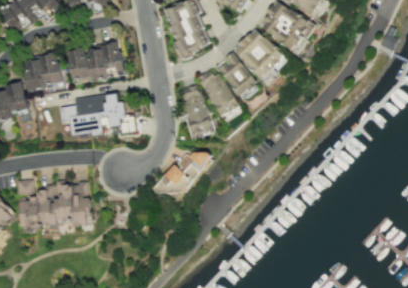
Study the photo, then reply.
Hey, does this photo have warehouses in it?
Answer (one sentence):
No, there is no warehouse in the image.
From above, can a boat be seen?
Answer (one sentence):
Yes, the image includes a boat.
